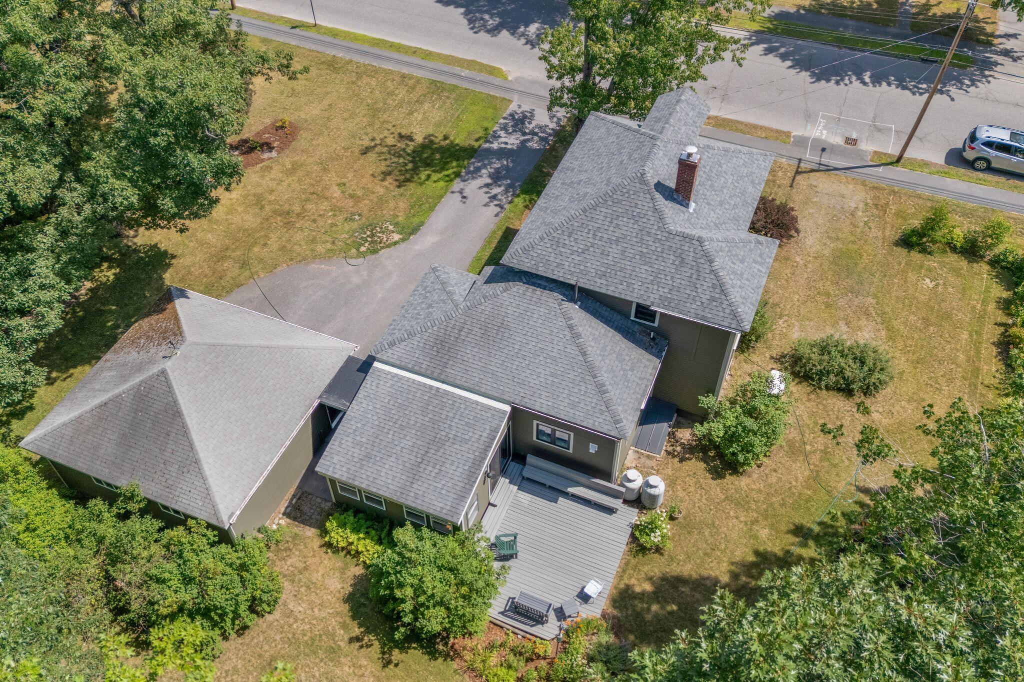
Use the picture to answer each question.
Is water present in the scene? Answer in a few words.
No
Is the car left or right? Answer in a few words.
right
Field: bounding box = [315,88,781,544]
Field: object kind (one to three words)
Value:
house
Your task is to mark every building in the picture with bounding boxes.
[315,88,781,544]
[19,285,362,550]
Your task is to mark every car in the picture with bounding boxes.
[968,117,1024,173]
